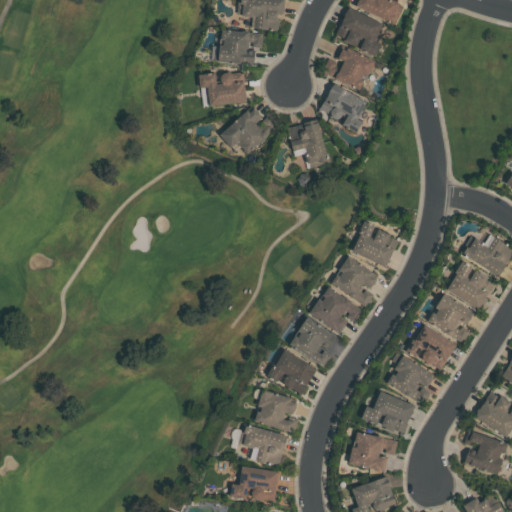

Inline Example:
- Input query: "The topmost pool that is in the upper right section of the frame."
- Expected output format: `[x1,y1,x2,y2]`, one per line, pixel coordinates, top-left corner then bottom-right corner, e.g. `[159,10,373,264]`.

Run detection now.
[372,76,386,94]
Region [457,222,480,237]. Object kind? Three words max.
swimming pool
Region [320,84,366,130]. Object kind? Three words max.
house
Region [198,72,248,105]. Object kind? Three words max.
house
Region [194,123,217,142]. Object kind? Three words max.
swimming pool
